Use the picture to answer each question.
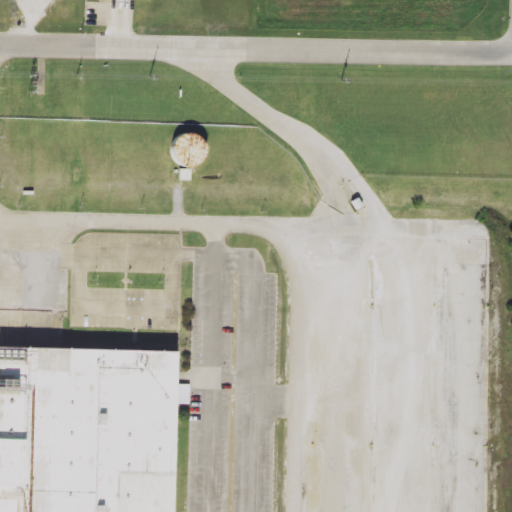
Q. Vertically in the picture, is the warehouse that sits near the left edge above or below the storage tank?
below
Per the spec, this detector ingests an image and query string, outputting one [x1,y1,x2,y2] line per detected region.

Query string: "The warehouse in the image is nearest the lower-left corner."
[0,346,190,512]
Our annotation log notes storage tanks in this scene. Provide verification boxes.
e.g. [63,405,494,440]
[170,133,208,168]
